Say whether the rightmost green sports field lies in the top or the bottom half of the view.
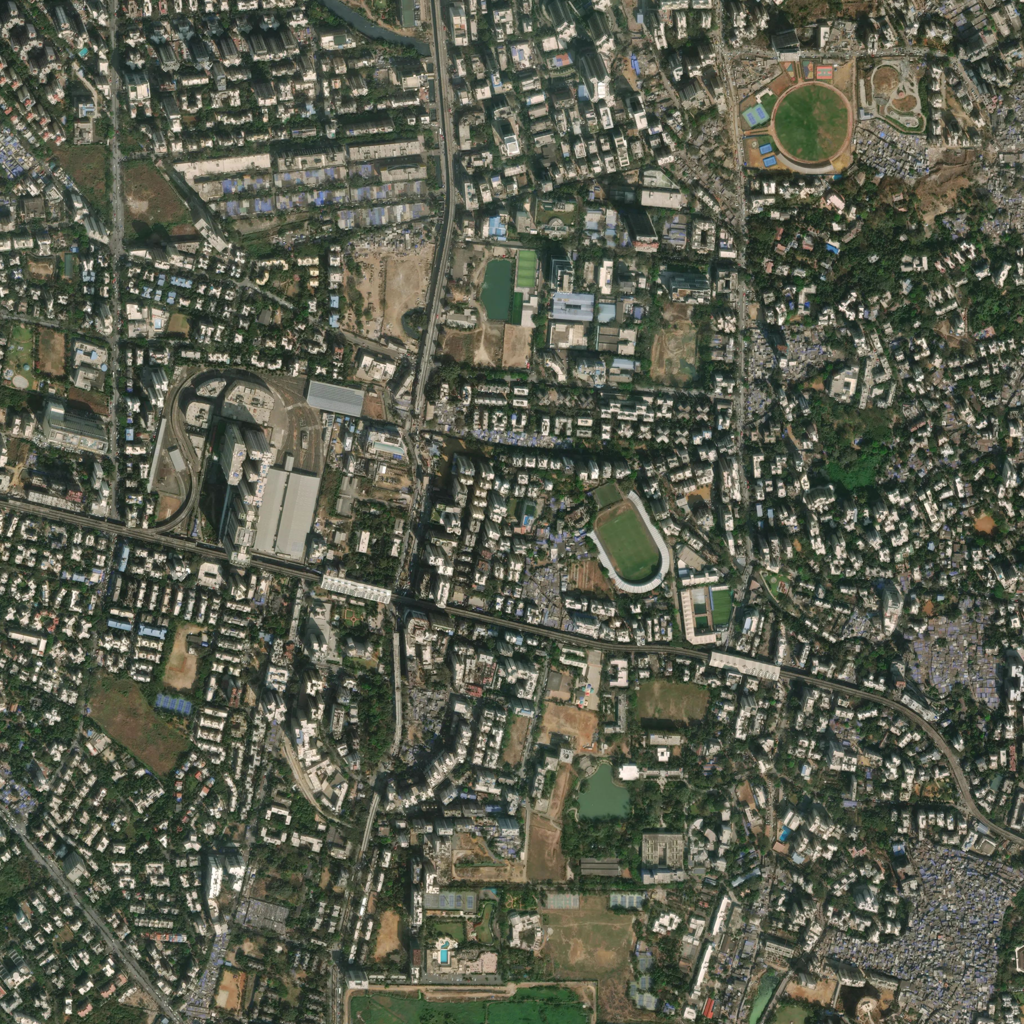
top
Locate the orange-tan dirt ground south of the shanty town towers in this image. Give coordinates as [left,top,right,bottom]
[785,976,837,1009]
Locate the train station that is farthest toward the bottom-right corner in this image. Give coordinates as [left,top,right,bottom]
[709,651,780,678]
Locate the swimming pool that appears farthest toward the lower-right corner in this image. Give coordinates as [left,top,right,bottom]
[777,821,793,843]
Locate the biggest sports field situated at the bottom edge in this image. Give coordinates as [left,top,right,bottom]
[541,910,634,983]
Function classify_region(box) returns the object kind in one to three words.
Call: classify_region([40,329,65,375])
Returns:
sports field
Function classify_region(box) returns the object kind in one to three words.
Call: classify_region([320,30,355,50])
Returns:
building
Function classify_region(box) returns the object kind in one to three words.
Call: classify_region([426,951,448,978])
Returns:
shed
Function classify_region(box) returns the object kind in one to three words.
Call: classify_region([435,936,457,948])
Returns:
swimming pool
